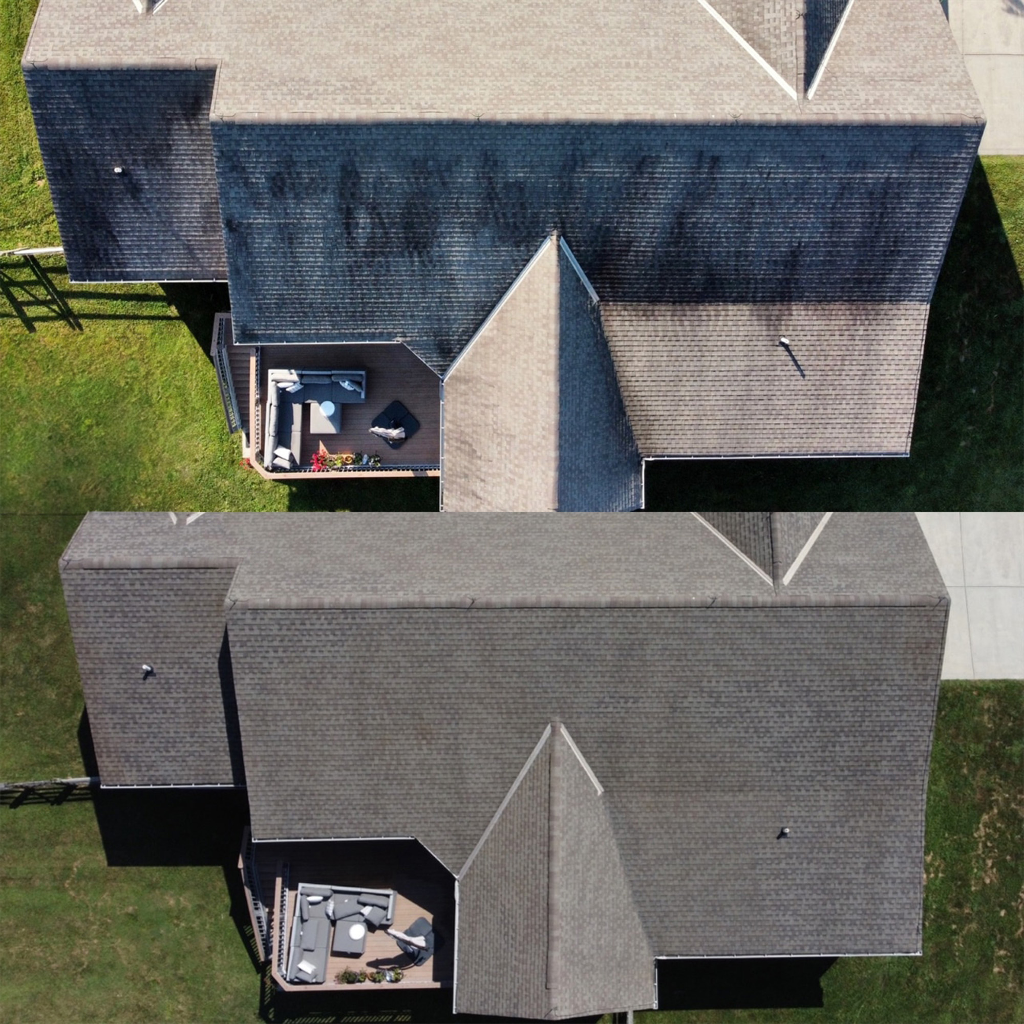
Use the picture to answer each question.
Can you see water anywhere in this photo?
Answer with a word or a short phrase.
No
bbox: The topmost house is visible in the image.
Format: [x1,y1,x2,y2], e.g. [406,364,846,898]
[23,0,986,512]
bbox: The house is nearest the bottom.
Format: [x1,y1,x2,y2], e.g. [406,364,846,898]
[61,511,949,1021]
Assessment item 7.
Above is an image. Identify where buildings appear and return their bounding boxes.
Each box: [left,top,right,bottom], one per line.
[23,0,986,512]
[61,511,949,1021]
